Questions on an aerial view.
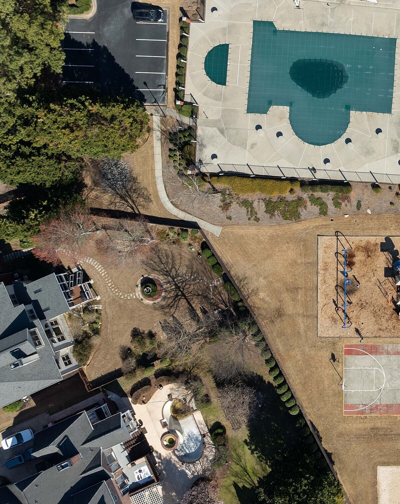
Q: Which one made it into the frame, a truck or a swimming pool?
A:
swimming pool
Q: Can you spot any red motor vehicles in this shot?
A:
No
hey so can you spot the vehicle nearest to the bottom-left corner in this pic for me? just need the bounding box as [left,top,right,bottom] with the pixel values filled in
[1,449,35,471]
